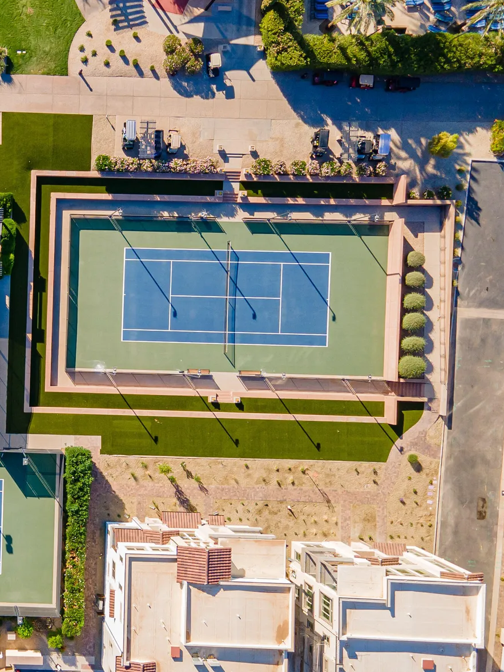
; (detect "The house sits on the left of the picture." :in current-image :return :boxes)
[98,510,298,672]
